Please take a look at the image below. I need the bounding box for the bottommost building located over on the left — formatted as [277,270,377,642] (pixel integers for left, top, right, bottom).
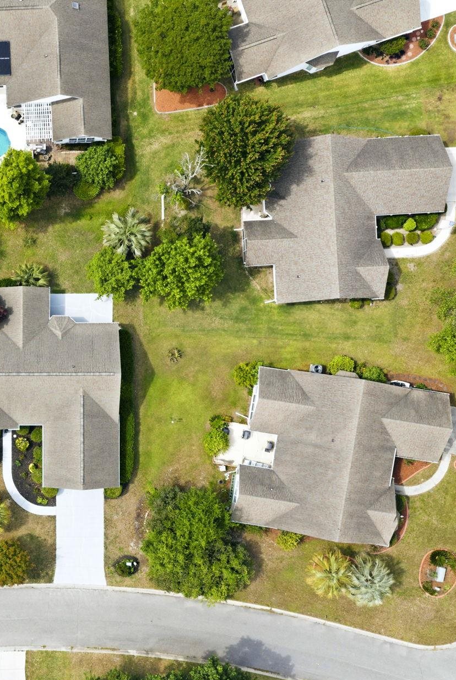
[0,286,121,490]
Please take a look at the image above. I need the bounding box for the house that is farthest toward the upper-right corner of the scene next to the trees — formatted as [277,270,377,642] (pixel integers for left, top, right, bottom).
[229,0,426,86]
